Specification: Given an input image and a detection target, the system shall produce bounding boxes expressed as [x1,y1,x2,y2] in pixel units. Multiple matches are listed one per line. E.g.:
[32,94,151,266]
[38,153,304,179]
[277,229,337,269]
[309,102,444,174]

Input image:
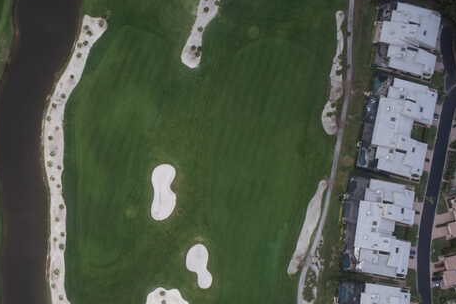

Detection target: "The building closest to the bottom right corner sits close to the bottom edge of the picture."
[441,255,456,291]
